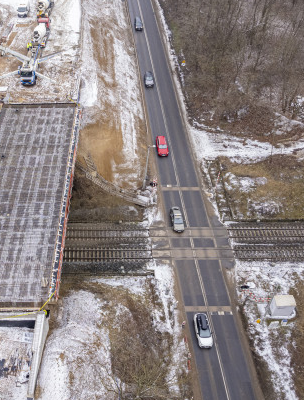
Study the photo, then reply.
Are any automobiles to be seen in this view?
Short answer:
Yes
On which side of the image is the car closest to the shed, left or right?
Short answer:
right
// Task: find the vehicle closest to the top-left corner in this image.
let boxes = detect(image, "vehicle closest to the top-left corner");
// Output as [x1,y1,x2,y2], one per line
[14,0,27,17]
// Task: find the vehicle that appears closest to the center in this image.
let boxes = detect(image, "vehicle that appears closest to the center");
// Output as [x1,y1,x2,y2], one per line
[168,203,185,228]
